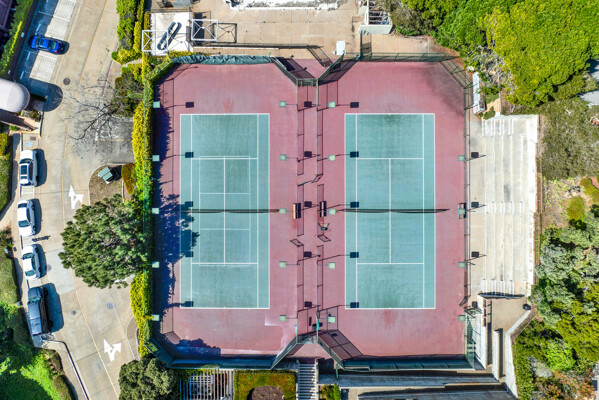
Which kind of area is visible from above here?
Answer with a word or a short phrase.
sports ground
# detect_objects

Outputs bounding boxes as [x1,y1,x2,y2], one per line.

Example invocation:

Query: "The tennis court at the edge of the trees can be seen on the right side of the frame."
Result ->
[316,62,466,357]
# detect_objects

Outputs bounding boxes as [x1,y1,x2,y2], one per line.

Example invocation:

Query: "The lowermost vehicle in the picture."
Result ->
[26,288,52,335]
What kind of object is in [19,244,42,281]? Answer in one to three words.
car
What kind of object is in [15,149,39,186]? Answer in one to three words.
car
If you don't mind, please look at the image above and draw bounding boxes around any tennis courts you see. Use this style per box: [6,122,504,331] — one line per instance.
[316,62,466,357]
[153,64,297,358]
